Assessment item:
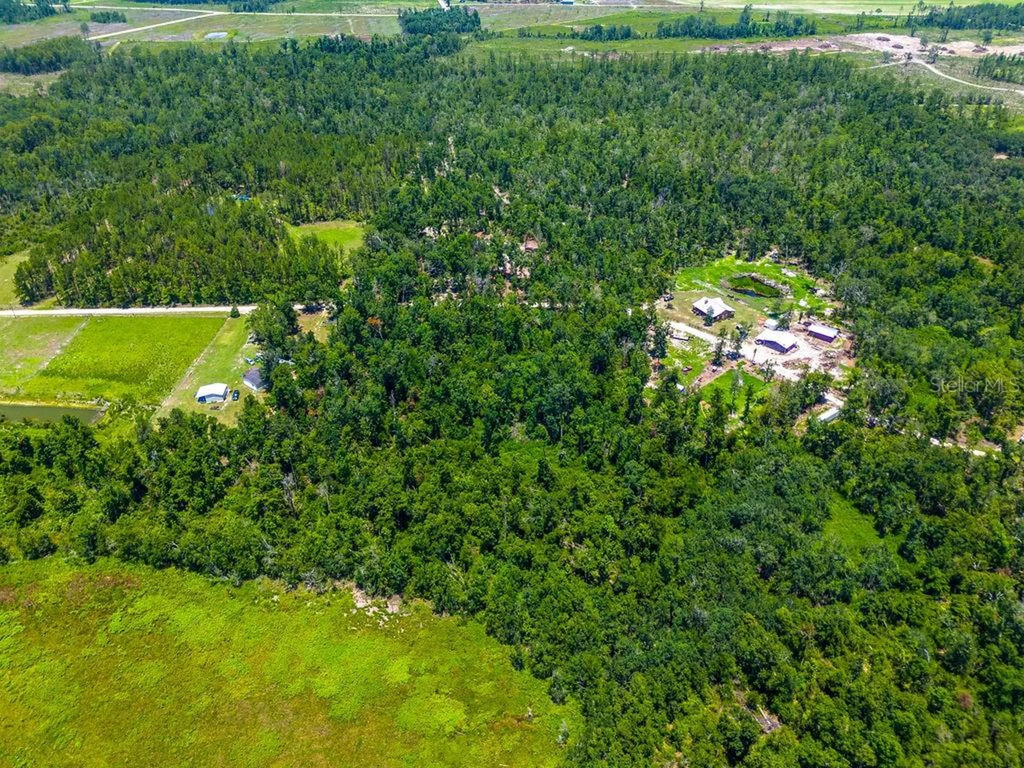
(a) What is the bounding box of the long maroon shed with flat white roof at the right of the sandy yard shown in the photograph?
[809,323,837,342]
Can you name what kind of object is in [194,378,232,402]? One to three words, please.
shed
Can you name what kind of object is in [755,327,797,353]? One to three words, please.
building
